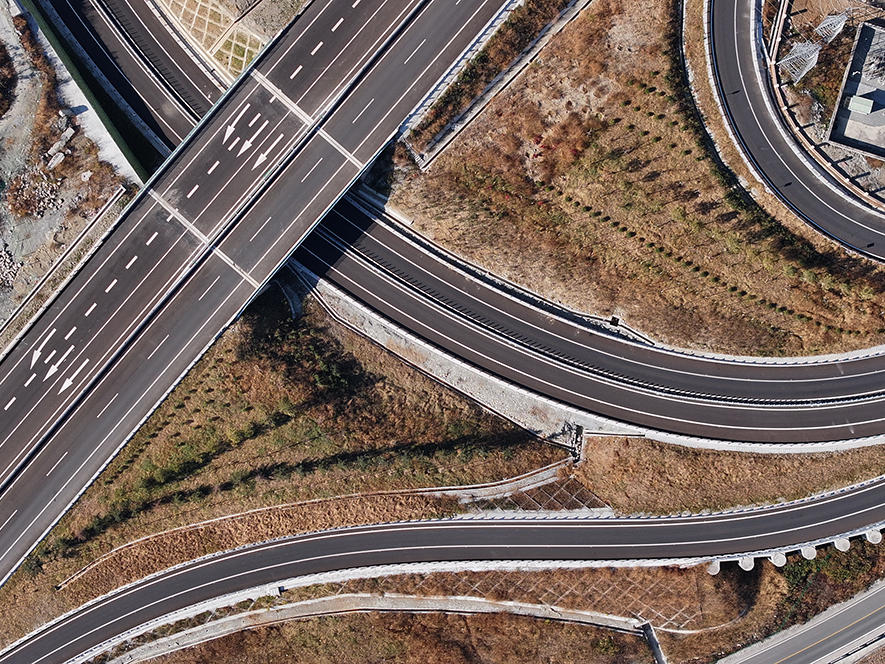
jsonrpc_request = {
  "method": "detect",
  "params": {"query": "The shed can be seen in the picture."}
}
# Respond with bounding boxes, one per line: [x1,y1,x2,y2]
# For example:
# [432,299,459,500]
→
[843,95,874,117]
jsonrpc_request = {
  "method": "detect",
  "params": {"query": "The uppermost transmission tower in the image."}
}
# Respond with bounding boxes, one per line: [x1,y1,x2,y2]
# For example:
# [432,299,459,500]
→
[816,1,860,43]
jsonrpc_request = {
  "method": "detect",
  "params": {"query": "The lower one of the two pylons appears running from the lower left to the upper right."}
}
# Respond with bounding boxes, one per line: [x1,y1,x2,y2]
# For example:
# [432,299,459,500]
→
[779,34,828,84]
